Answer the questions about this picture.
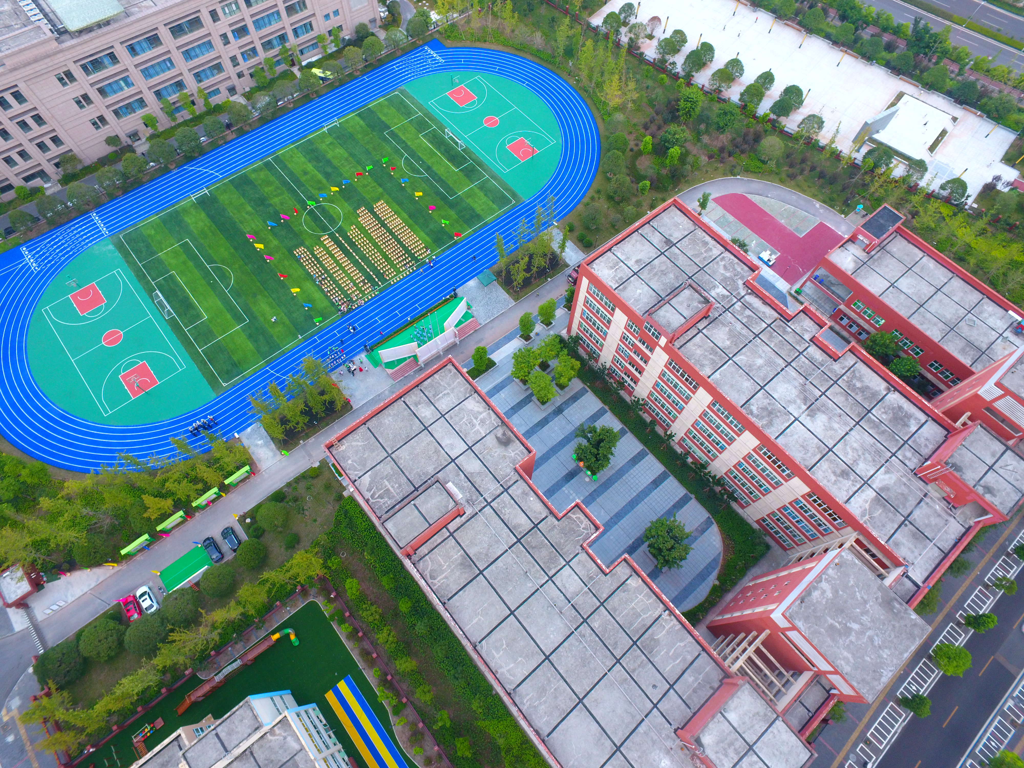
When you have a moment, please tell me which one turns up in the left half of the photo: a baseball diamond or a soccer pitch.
soccer pitch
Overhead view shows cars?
Yes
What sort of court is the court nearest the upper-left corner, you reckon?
basketball court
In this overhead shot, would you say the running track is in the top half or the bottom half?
top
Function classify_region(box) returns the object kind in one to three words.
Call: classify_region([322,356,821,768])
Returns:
building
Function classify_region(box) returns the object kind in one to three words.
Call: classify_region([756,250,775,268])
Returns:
vehicle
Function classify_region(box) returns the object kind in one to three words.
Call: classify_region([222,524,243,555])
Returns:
car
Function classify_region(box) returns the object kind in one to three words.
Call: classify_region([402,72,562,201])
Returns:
basketball court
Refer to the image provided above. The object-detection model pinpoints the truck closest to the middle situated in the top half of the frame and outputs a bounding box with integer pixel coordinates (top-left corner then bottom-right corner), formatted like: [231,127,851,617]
[562,259,584,283]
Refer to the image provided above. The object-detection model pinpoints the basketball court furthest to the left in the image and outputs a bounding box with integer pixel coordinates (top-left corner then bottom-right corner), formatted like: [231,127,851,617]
[28,237,216,423]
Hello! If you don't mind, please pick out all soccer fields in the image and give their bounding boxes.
[107,86,526,396]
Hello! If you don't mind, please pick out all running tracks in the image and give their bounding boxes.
[0,39,600,471]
